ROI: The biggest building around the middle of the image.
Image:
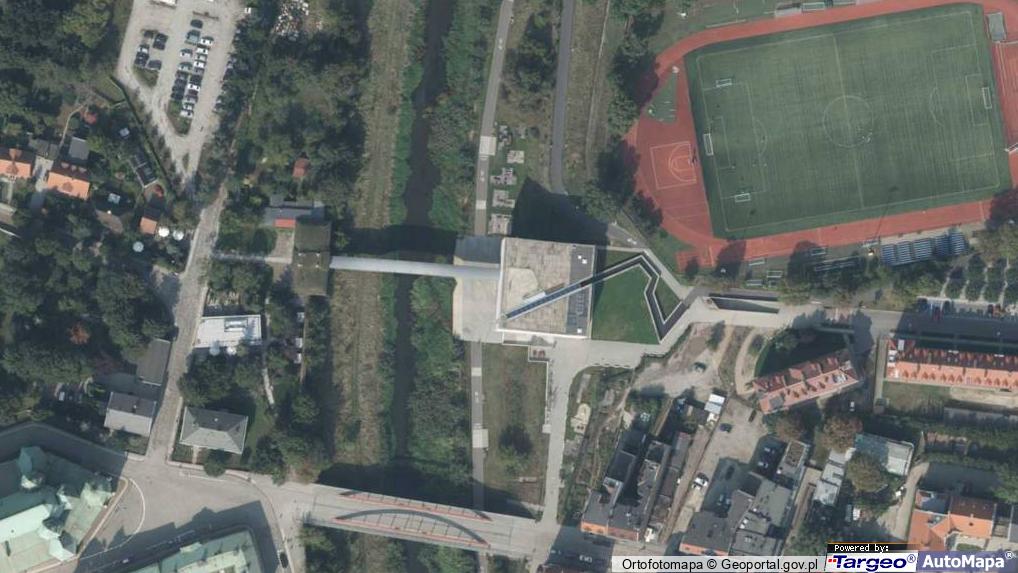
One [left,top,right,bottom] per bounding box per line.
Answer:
[496,237,596,338]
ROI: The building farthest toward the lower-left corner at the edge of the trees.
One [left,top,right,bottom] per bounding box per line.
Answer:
[0,455,119,573]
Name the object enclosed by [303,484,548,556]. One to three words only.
bridge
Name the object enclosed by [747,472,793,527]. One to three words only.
building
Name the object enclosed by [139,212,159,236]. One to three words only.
house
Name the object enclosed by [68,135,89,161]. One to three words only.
shed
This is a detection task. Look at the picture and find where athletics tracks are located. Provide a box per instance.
[624,0,1018,273]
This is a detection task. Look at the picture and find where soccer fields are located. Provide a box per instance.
[686,3,1012,240]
